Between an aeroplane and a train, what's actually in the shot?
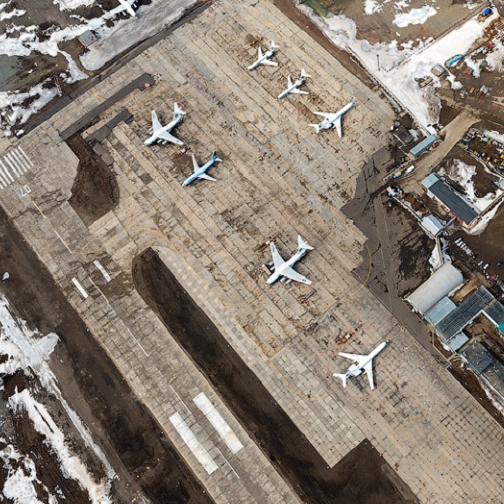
aeroplane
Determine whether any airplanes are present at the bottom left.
No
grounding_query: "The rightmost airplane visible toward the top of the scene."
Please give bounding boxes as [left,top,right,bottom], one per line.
[308,102,356,138]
